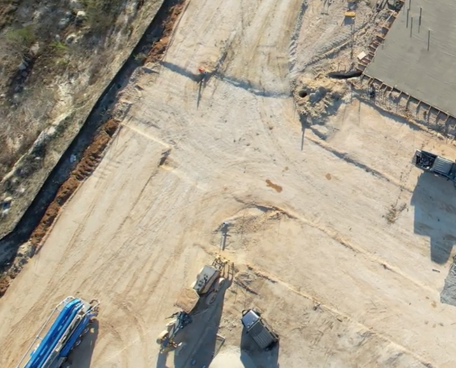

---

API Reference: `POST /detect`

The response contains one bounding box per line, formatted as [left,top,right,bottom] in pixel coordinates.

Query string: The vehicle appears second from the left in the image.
[171,251,236,345]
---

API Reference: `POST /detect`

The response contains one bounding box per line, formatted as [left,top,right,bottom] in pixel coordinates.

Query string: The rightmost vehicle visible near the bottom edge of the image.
[240,308,279,357]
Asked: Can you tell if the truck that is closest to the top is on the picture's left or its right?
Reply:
right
